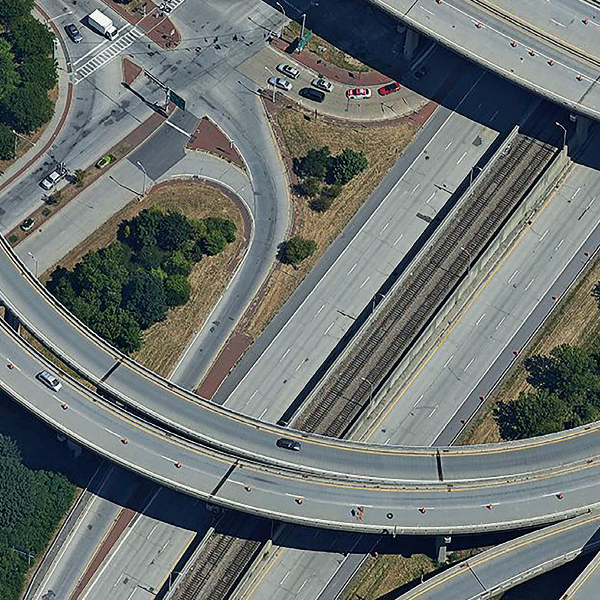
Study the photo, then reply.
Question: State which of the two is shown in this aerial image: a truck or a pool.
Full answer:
It is a truck that can be seen here.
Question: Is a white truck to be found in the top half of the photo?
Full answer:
Yes, the scene does show a white truck in the top half of the photo.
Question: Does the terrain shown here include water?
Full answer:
No, no water is visible.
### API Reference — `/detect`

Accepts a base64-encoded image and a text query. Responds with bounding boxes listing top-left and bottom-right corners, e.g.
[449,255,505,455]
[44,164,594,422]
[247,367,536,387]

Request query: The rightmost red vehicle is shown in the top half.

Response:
[378,83,401,97]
